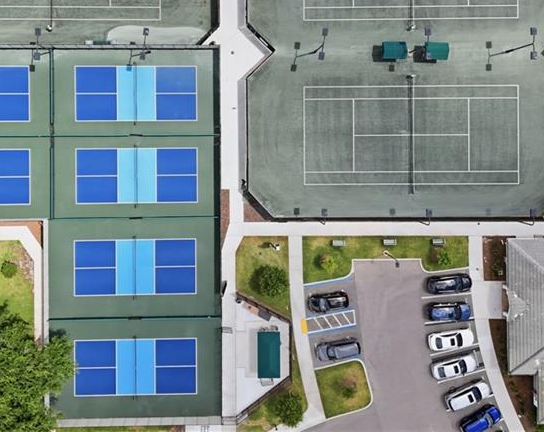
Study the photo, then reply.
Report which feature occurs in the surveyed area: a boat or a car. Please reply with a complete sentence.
Looking from above, you can make out a car.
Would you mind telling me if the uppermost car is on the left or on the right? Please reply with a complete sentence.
The uppermost car appears in the right half of the scene.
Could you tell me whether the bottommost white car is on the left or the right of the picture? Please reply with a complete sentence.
It is on the right.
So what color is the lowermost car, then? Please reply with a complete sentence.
The lowermost car is blue.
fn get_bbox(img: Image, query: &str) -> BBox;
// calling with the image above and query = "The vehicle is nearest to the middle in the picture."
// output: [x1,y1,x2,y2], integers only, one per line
[305,289,351,314]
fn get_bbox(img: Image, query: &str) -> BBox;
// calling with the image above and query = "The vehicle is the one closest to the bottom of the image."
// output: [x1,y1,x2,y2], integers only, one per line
[458,402,504,432]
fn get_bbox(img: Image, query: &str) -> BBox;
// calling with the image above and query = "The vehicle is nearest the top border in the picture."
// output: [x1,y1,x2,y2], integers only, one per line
[425,272,470,294]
